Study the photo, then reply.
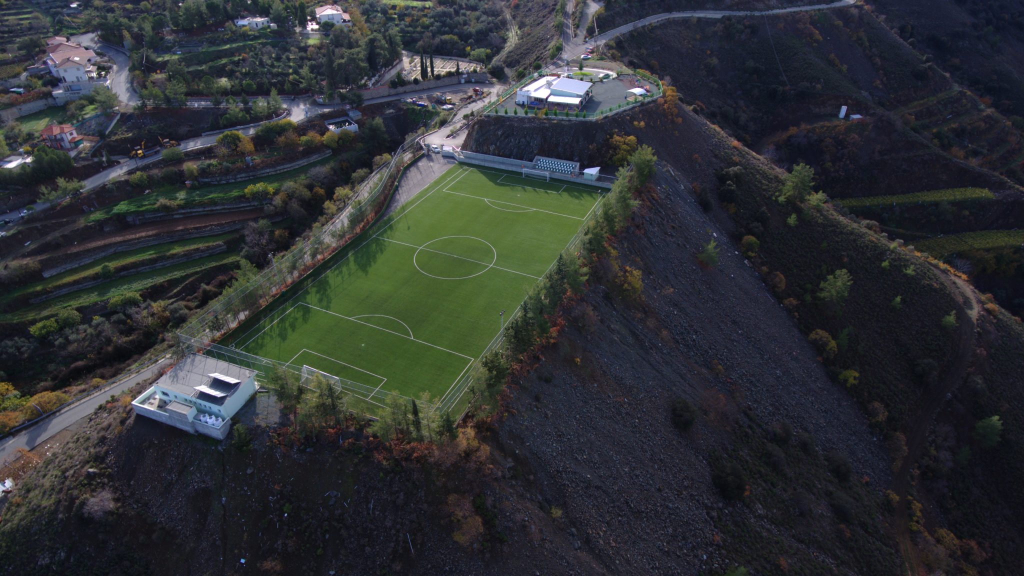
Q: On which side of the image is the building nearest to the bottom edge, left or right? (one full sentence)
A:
You can find the building nearest to the bottom edge on the left side of the picture.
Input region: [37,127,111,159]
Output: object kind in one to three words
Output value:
house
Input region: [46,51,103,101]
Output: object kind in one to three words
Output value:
house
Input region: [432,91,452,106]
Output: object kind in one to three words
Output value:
vehicle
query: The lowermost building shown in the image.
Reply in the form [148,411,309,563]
[154,352,268,420]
